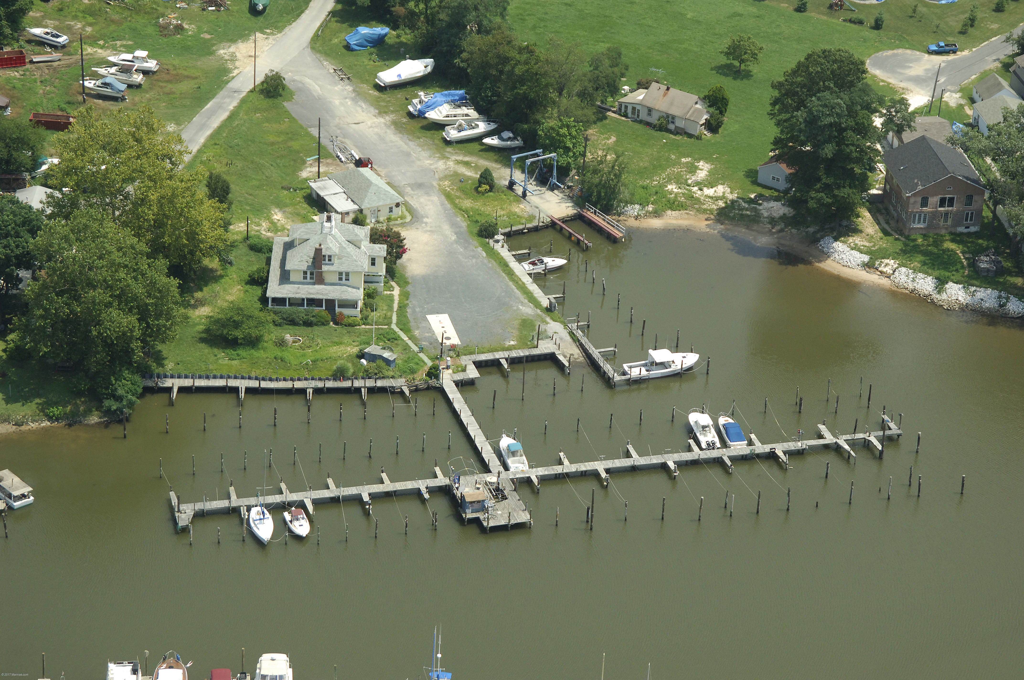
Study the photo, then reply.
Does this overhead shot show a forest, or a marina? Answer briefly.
marina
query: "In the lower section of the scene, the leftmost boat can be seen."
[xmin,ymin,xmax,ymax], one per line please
[0,461,36,513]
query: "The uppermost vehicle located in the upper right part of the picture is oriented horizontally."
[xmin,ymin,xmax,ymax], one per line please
[925,43,958,57]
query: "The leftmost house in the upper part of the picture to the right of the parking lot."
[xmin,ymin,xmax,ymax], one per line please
[616,82,720,137]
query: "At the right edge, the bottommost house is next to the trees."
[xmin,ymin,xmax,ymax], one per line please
[886,140,989,235]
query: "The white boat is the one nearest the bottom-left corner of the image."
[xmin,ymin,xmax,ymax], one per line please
[105,660,143,680]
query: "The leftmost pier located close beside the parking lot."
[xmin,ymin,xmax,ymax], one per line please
[180,478,453,516]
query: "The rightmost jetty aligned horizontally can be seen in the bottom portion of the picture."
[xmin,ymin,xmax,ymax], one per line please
[837,430,904,442]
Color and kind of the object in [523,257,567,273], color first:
white boat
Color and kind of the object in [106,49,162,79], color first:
white boat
